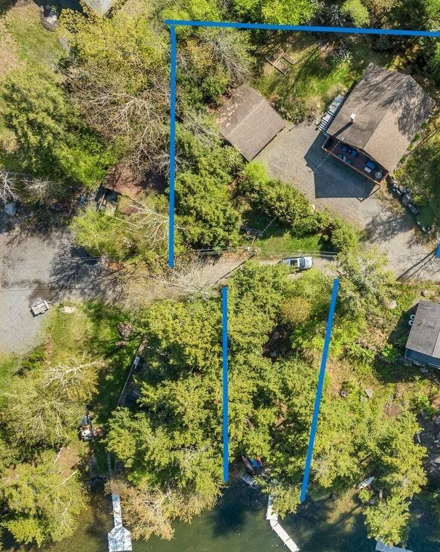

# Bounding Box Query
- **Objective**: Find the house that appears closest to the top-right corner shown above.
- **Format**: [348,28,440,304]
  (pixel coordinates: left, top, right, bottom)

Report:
[323,62,435,187]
